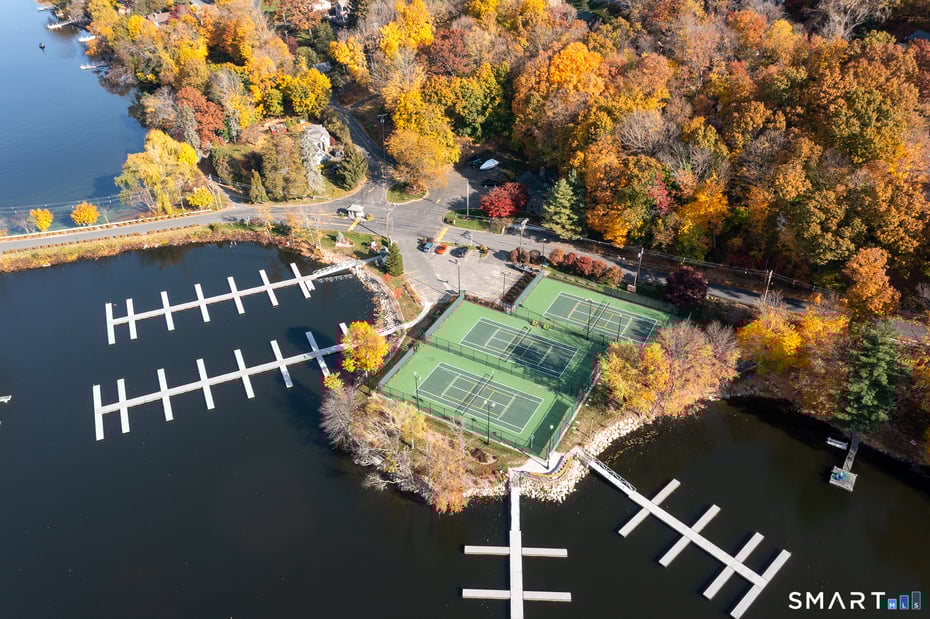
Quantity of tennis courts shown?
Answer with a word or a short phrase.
3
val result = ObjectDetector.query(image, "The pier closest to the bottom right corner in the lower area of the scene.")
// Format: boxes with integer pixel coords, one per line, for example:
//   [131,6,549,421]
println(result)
[827,435,860,495]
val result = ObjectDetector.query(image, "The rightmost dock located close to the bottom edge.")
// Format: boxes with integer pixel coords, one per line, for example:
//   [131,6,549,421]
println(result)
[618,479,791,619]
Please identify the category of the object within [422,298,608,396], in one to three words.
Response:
tennis court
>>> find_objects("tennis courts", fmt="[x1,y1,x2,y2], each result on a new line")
[422,298,608,396]
[375,340,579,460]
[510,273,680,355]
